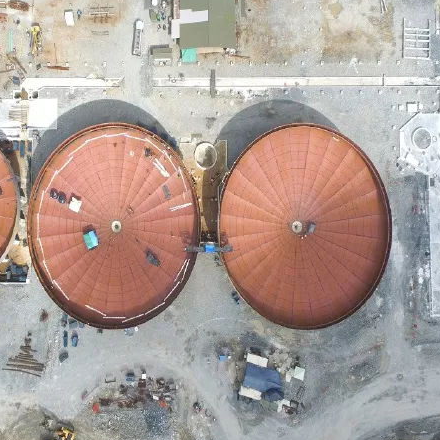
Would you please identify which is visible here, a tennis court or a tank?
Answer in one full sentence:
It is a tank that can be seen here.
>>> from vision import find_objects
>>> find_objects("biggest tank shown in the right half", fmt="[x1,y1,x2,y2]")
[216,123,392,330]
